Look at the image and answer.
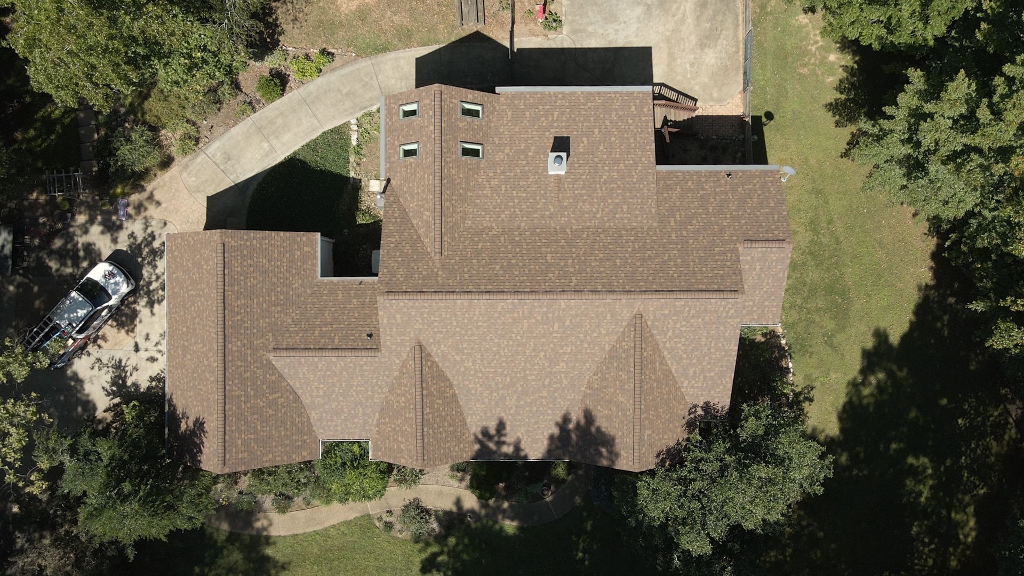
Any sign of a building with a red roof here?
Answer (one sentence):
No, the frame has no building with a red roof in it.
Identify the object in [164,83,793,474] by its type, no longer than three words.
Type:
house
